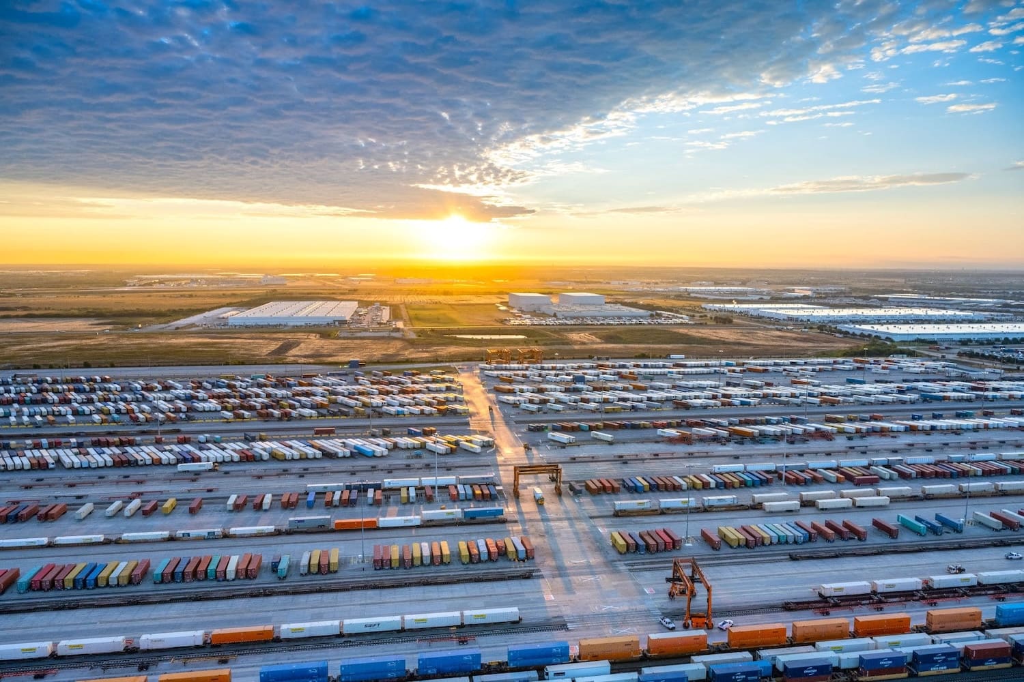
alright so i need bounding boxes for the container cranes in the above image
[512,460,561,497]
[664,555,718,628]
[485,346,510,364]
[515,346,541,364]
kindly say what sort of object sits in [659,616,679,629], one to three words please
vehicle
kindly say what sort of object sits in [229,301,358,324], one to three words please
building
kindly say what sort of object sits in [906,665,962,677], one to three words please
rail car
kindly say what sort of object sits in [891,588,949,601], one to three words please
rail car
